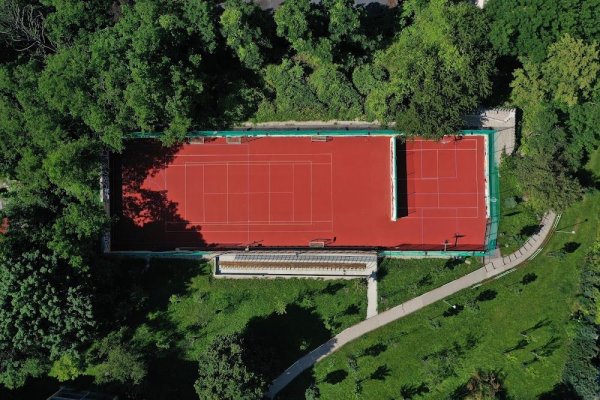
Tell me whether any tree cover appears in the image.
Yes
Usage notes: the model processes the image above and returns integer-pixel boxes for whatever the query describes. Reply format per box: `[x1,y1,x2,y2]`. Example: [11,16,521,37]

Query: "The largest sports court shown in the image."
[110,137,392,251]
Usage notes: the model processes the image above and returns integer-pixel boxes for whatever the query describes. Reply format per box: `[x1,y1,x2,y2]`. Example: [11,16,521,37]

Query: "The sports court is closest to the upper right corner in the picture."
[392,137,485,251]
